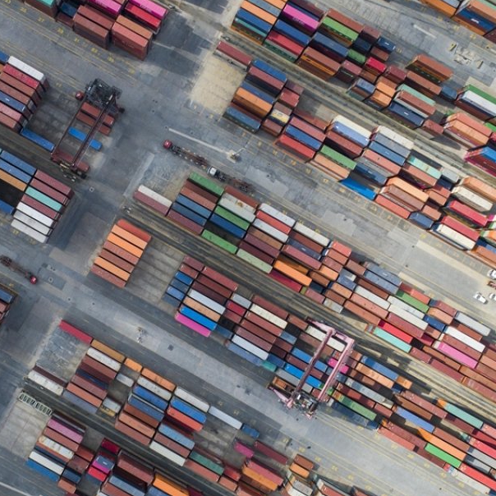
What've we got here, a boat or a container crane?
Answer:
container crane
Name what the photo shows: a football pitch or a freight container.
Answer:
freight container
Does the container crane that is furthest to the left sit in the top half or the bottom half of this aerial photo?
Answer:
top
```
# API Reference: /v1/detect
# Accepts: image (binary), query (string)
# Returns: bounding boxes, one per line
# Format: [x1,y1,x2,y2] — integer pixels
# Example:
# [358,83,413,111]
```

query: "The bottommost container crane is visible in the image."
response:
[262,314,360,421]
